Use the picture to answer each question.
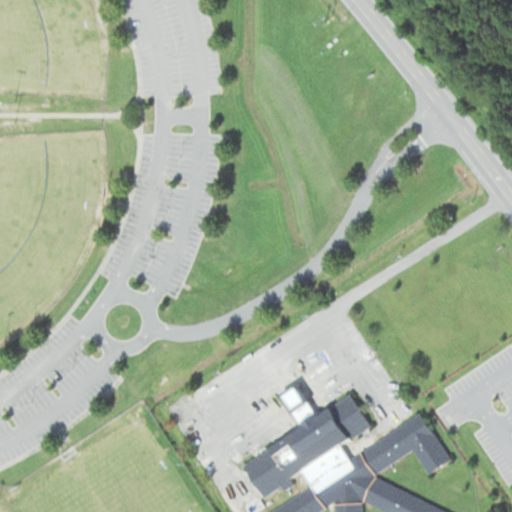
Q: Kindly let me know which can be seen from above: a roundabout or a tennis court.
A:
roundabout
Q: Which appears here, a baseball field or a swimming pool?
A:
baseball field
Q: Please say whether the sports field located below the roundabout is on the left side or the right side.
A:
left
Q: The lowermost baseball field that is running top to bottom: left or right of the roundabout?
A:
left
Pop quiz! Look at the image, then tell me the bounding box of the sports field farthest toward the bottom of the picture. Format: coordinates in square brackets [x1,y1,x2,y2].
[0,404,225,512]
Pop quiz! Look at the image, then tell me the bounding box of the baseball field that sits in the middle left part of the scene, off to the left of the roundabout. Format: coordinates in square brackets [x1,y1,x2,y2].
[0,130,106,346]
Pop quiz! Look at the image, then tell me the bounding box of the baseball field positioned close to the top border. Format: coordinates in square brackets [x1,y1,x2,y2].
[0,0,107,99]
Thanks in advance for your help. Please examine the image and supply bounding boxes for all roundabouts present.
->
[96,295,150,350]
